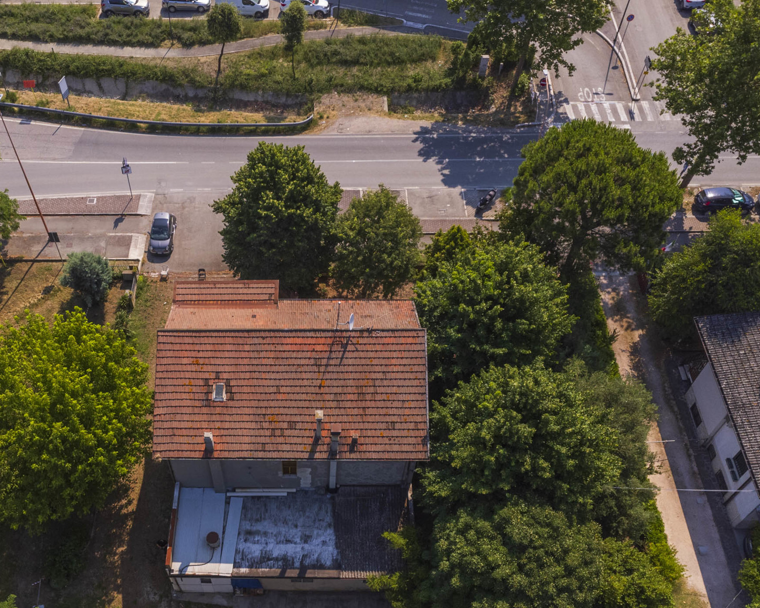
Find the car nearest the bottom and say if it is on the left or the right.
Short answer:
left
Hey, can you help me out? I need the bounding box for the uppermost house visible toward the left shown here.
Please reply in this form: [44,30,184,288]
[154,276,429,517]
